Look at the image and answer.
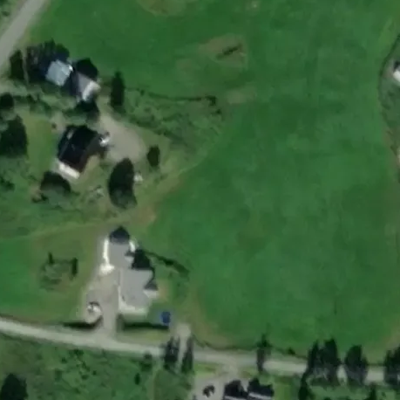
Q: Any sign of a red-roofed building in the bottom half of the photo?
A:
No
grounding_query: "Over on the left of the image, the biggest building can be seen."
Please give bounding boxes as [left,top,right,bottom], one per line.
[100,238,158,313]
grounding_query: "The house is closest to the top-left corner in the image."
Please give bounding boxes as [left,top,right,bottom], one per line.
[45,57,72,85]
